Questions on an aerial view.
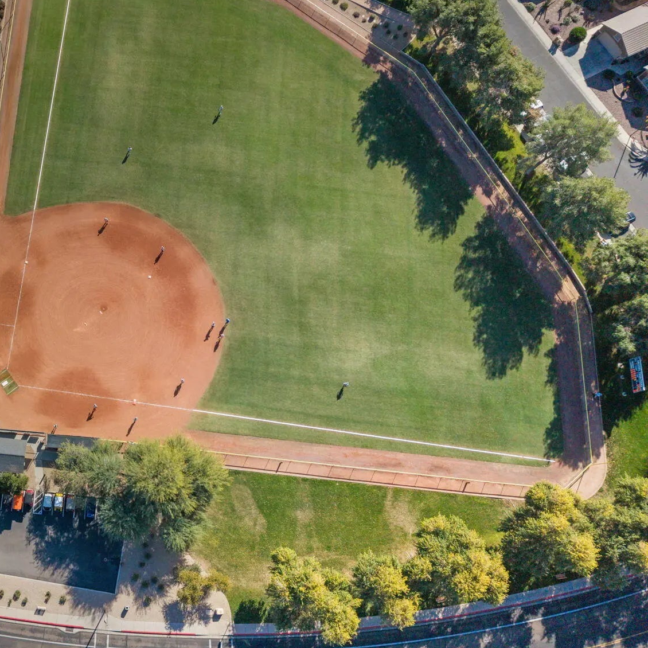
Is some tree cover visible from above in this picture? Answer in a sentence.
Yes, tree cover can be seen from above here.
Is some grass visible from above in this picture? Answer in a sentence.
Yes, there's grass in this view.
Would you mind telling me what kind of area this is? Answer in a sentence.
The area seen from above is a sports ground.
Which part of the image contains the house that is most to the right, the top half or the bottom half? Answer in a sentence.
The house that is most to the right is in the top half of the image.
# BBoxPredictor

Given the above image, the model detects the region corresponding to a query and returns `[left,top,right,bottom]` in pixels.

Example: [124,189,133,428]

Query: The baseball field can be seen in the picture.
[0,0,608,499]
